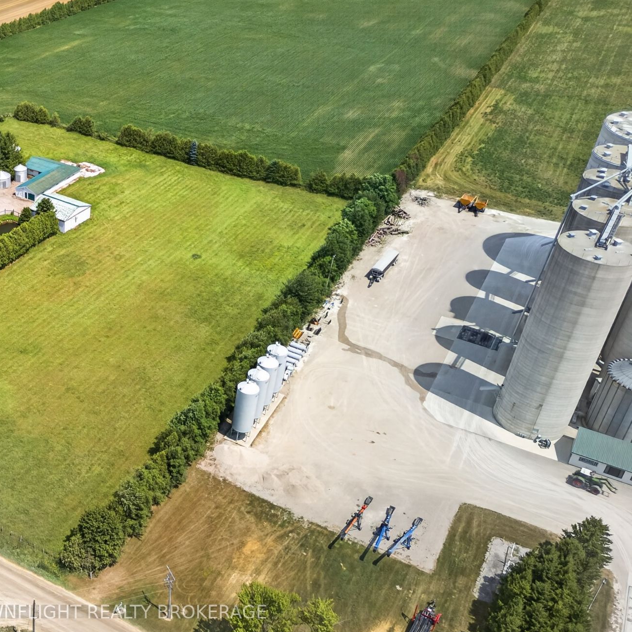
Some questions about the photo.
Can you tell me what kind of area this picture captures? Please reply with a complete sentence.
This image shows an industrial area.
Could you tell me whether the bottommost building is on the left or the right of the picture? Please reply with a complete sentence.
You can find the bottommost building on the right side of the picture.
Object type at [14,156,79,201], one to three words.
barn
